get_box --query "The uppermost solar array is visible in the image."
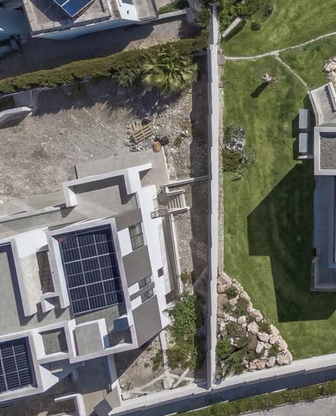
[59,229,126,316]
